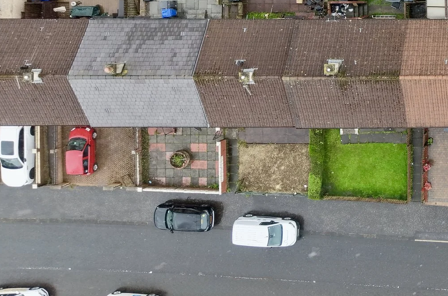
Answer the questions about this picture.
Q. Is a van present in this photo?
Yes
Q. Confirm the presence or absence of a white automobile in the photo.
Yes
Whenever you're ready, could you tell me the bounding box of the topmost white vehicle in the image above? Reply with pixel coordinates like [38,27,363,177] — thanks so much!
[0,127,34,187]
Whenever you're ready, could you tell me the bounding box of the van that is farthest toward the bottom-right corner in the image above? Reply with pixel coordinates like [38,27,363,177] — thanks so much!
[231,214,304,252]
